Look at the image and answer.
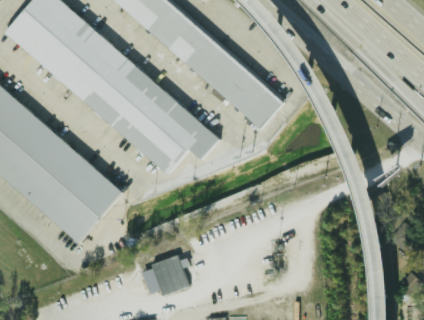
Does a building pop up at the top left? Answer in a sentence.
Yes, a building is visible at the top left.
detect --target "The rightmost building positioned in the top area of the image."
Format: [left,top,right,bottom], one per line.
[117,0,286,129]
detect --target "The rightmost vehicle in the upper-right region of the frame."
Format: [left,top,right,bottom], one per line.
[400,76,416,91]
